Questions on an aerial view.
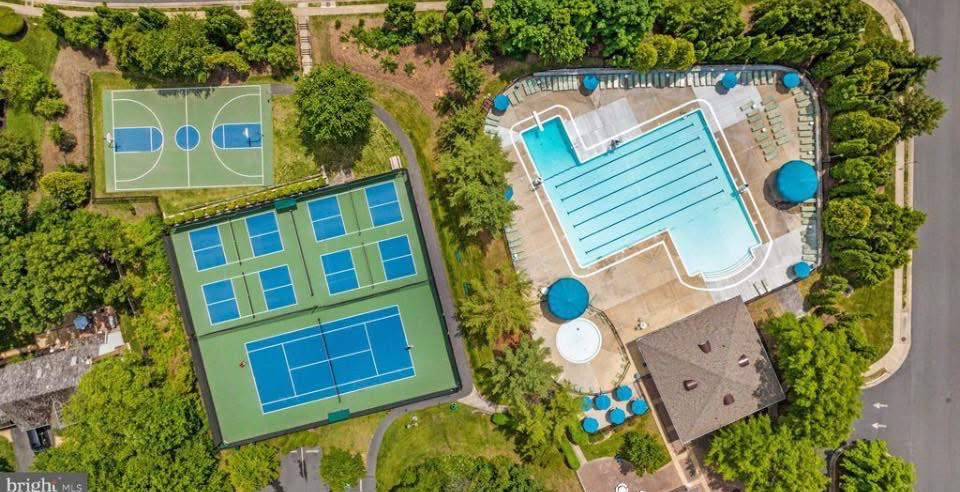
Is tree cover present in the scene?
Yes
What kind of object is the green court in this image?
basketball court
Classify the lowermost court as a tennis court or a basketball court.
tennis court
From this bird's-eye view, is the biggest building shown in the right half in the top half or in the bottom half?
bottom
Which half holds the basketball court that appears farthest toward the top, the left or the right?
left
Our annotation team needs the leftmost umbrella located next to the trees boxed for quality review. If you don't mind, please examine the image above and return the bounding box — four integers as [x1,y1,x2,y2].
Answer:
[73,314,90,331]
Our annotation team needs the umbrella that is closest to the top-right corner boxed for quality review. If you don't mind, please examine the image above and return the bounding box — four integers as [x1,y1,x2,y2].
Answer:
[782,71,800,89]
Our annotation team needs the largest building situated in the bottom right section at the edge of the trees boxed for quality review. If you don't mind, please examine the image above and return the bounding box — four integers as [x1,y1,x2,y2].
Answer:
[638,295,785,442]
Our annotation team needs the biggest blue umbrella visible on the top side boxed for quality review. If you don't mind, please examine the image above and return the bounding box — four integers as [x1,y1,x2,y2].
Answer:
[775,160,817,202]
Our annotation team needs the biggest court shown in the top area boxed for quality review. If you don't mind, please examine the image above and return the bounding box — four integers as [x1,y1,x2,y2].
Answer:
[103,83,273,192]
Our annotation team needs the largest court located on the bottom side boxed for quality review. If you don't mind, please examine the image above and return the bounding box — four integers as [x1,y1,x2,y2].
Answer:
[245,305,416,414]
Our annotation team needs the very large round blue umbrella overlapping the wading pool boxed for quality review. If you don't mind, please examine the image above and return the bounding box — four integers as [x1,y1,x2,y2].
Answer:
[548,277,589,319]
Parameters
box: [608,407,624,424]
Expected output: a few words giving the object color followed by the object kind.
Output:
blue umbrella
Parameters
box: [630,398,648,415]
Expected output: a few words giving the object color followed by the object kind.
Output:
blue umbrella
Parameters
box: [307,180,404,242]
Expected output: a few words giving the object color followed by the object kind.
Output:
blue sports court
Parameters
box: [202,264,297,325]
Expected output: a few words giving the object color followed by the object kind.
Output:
blue sports court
